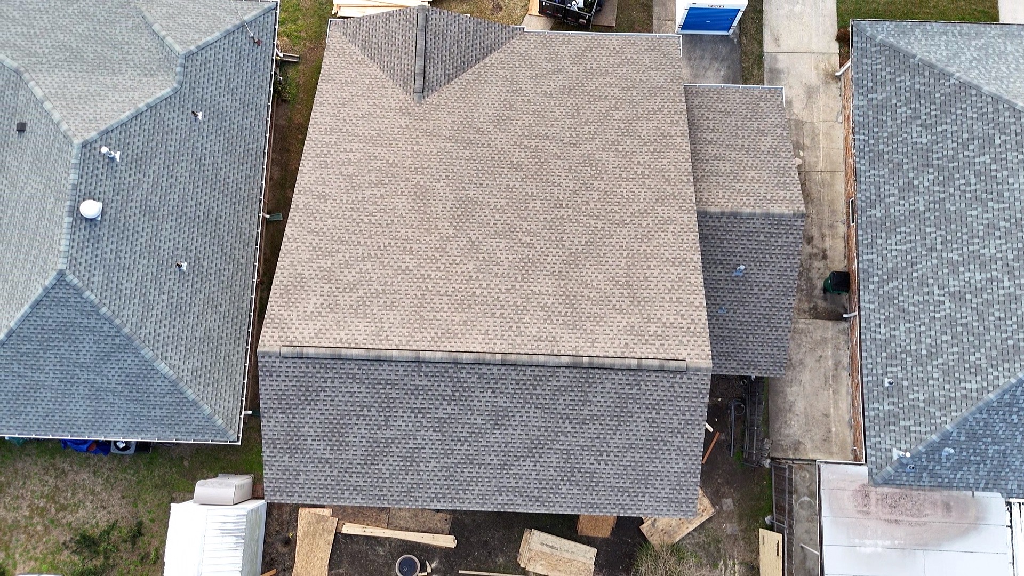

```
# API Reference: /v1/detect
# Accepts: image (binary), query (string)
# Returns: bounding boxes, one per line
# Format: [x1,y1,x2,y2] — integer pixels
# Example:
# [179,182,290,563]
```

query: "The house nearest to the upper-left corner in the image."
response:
[0,0,286,447]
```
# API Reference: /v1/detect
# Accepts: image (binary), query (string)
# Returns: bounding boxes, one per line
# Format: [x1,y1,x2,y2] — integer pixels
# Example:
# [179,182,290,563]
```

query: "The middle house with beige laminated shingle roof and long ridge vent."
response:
[262,5,805,518]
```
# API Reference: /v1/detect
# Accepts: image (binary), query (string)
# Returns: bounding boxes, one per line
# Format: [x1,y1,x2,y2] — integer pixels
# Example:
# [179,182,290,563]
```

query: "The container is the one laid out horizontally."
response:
[675,0,750,34]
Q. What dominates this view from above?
buildings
